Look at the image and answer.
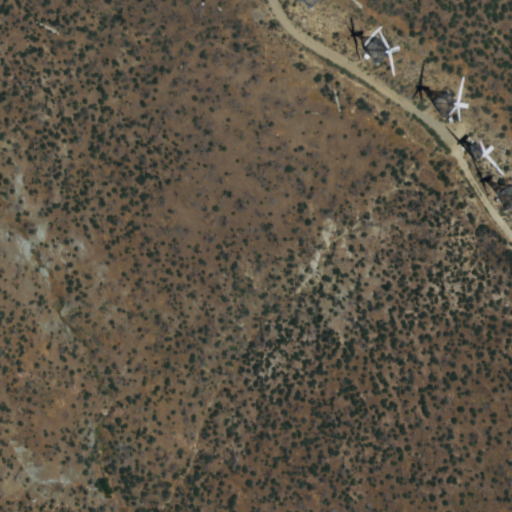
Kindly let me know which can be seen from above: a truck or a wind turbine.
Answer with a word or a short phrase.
wind turbine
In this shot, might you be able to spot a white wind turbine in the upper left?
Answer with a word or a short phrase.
No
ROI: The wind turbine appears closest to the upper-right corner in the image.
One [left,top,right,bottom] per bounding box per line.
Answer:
[432,76,469,120]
